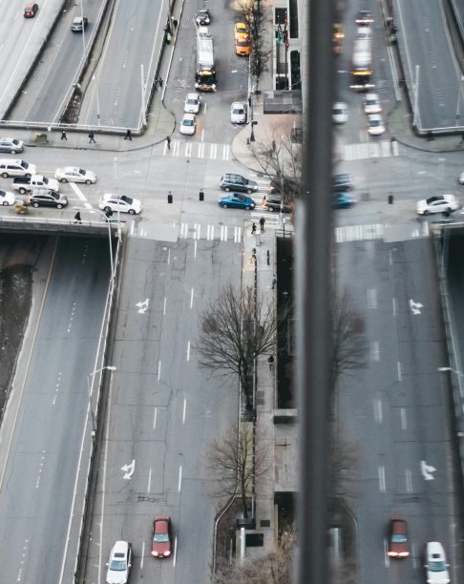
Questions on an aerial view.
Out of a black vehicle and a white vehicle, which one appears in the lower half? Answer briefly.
white vehicle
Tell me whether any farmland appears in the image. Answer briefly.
No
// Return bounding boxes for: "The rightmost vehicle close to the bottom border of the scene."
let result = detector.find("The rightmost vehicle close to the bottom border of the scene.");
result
[148,517,173,559]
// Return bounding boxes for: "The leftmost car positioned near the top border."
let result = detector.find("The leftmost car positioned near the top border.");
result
[22,3,39,20]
